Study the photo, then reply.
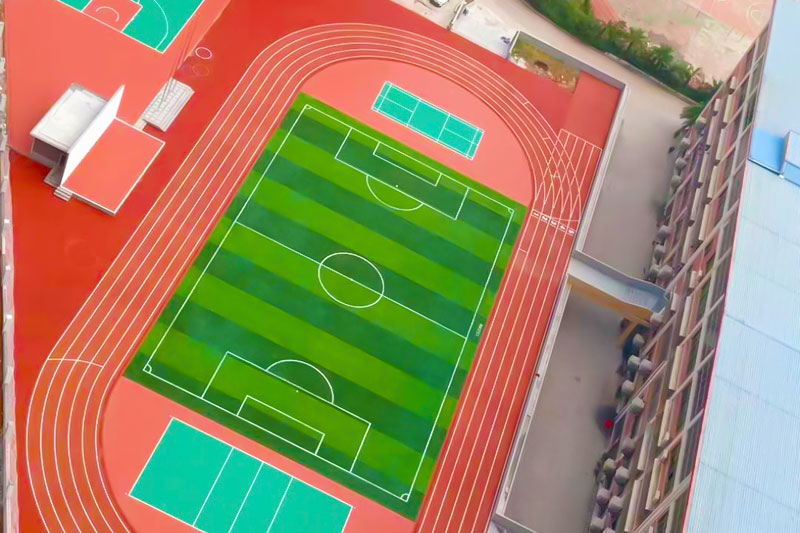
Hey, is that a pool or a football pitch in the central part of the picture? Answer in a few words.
football pitch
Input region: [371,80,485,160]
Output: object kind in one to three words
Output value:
sports court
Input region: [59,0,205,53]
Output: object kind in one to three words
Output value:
basketball court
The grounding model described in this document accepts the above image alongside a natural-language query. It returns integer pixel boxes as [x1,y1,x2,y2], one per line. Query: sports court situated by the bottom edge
[125,413,357,533]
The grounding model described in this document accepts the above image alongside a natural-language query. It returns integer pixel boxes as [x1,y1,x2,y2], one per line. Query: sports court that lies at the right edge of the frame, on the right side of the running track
[681,0,772,39]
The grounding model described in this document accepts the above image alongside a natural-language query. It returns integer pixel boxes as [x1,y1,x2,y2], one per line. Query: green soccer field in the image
[123,91,527,521]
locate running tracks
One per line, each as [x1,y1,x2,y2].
[26,23,602,533]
